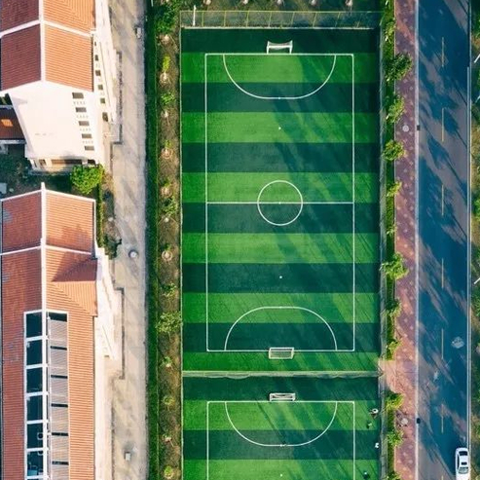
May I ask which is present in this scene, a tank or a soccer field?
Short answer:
soccer field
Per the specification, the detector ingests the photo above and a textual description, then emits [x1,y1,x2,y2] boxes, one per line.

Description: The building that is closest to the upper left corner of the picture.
[0,0,125,177]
